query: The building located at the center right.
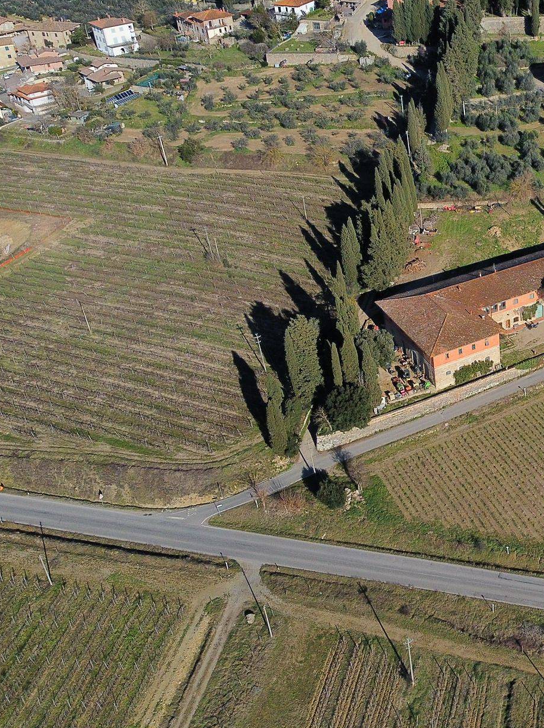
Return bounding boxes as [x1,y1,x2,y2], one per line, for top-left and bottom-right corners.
[365,239,544,391]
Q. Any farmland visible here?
Yes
